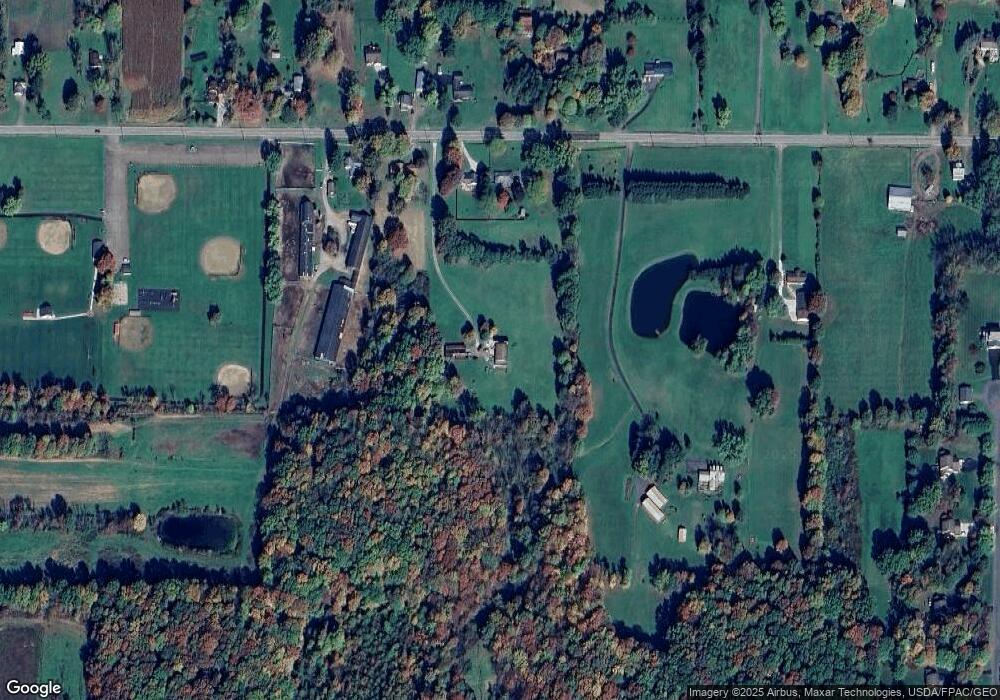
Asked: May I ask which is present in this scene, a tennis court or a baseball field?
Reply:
baseball field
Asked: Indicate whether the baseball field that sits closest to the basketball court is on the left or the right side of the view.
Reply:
left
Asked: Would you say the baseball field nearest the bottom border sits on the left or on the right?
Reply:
left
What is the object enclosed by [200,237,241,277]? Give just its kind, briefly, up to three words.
baseball field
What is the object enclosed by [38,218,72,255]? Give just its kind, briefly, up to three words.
baseball field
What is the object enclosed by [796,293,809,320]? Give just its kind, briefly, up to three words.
building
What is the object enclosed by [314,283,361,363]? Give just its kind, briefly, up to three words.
barn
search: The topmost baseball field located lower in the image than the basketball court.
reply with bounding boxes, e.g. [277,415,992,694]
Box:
[118,315,153,351]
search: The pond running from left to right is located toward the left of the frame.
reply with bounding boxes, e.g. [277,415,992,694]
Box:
[158,514,240,553]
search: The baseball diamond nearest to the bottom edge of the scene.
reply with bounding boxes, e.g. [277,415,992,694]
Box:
[217,363,252,396]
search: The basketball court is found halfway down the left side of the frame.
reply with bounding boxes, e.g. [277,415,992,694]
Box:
[138,289,179,310]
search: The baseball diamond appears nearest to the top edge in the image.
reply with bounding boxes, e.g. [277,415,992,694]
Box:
[137,172,176,213]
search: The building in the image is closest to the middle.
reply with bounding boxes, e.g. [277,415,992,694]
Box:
[495,342,509,366]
